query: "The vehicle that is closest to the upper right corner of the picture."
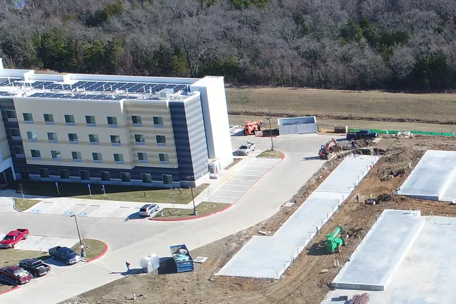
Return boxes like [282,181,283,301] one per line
[347,126,379,138]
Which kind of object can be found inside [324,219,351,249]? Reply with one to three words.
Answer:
work vehicle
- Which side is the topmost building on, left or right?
left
